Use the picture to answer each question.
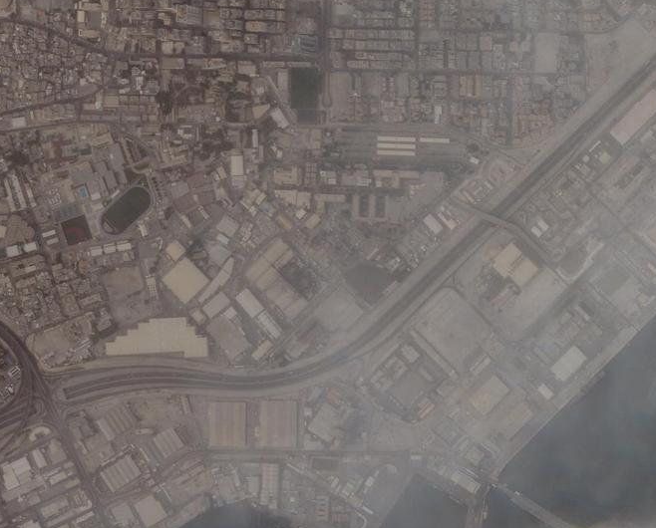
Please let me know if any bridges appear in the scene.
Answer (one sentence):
Yes, there is a bridge in the image.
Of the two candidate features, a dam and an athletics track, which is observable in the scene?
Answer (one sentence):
Visible in the photo is an athletics track.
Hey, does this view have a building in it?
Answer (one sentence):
Yes, there's a building here.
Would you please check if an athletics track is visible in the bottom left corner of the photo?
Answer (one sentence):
No, no athletics track is visible in the bottom left corner of the photo.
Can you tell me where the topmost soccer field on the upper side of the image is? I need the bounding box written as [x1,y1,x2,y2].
[291,67,319,109]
